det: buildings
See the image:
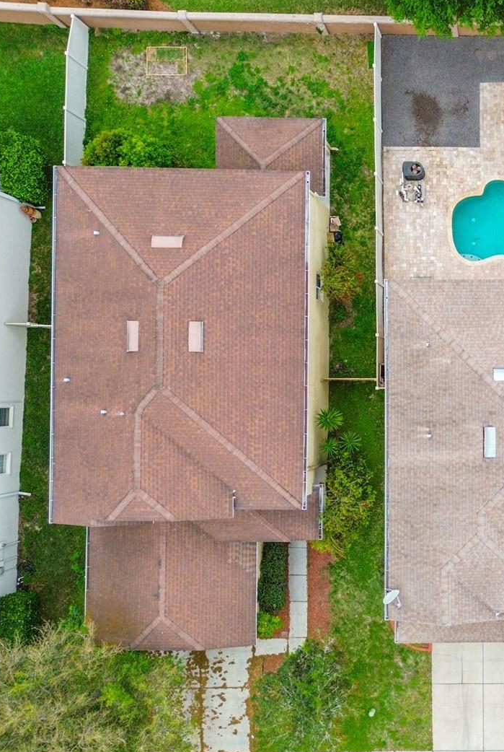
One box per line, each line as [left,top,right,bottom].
[0,205,45,613]
[384,277,504,644]
[50,116,344,658]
